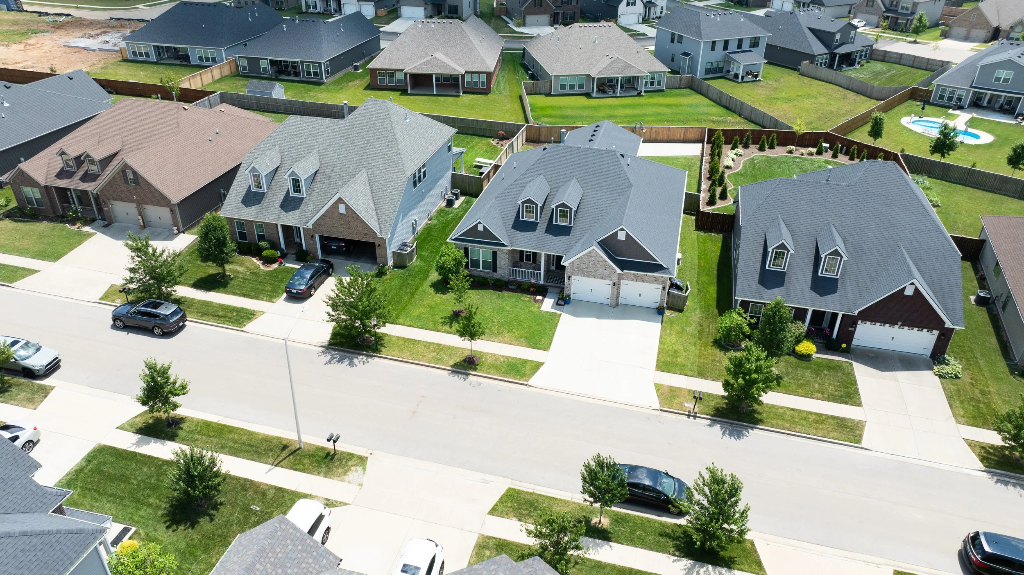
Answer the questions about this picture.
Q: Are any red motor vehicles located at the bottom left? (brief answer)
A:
No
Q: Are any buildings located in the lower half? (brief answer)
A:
Yes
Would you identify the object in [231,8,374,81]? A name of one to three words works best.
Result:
house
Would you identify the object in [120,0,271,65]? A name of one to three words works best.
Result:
house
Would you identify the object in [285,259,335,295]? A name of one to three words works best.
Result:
car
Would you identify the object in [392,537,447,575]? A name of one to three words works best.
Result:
car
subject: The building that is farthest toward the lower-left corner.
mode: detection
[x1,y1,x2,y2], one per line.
[0,434,117,575]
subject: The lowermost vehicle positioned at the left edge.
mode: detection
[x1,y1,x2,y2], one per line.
[0,420,40,452]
